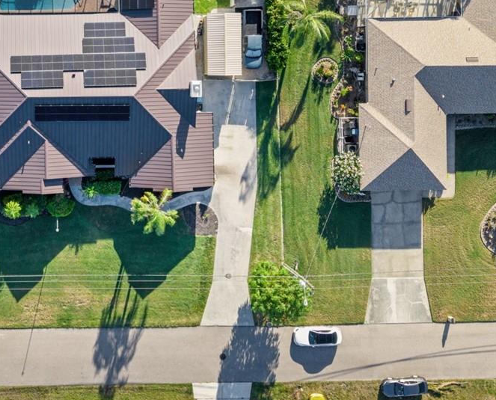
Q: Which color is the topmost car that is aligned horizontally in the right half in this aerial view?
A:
white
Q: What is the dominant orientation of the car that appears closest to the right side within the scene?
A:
from side to side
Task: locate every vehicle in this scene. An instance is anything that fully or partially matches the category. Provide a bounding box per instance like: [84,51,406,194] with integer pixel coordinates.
[292,325,340,349]
[379,375,426,398]
[306,391,324,400]
[243,11,264,64]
